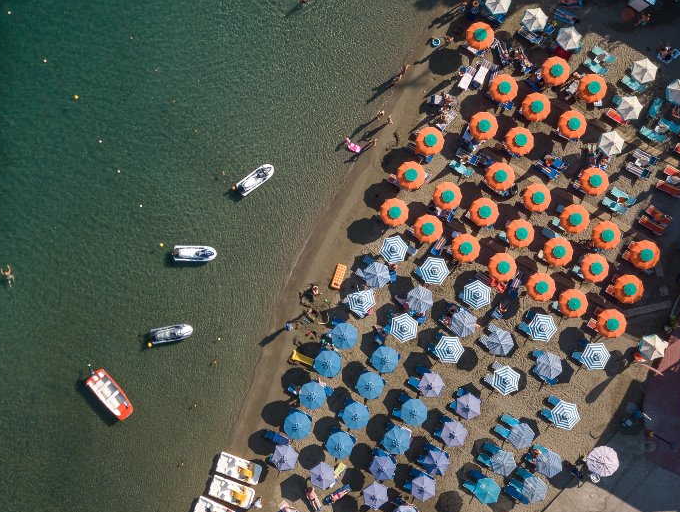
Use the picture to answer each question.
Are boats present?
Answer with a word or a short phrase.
Yes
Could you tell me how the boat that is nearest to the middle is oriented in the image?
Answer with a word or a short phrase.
on a diagonal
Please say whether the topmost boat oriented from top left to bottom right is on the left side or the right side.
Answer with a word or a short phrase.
left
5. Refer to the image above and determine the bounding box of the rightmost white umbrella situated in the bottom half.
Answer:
[638,332,667,361]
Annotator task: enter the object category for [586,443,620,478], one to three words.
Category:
umbrella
